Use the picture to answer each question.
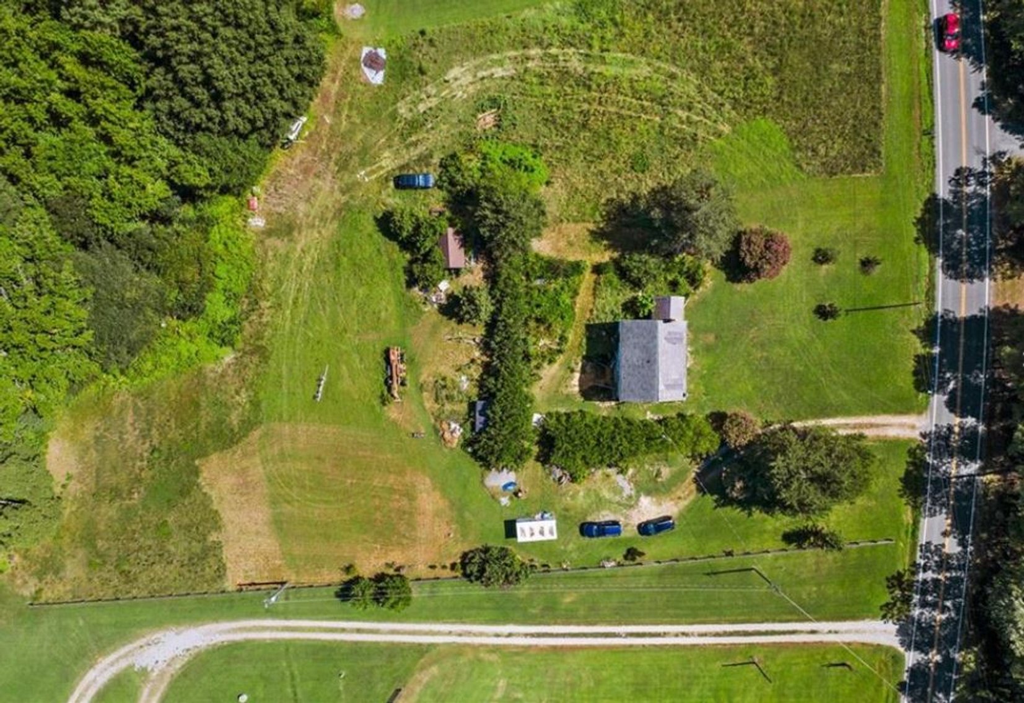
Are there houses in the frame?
Yes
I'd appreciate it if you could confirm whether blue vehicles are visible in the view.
Yes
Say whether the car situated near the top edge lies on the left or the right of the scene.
right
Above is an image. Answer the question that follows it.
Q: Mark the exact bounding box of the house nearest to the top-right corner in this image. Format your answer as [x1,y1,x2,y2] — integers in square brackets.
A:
[606,291,688,403]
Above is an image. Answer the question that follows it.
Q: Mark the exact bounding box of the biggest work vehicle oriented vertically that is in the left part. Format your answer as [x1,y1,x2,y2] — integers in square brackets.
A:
[385,348,404,400]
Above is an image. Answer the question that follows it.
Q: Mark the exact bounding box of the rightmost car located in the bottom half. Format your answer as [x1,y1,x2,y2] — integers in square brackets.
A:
[637,516,678,540]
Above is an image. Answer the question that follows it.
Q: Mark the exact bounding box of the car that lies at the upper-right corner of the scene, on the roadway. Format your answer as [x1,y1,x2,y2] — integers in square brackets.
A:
[943,10,966,51]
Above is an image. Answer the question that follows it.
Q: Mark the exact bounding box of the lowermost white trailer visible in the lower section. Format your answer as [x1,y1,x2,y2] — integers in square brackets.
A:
[515,519,564,544]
